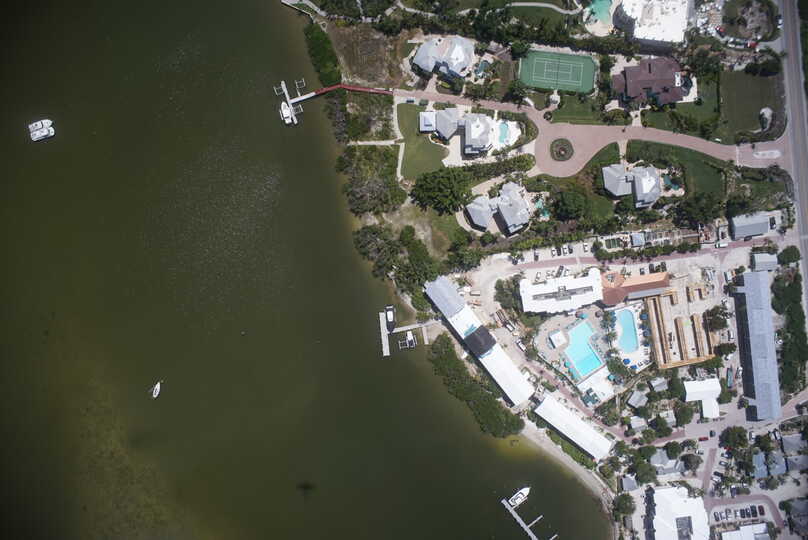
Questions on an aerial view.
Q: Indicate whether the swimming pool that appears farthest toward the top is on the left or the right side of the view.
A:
right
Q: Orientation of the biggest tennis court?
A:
horizontally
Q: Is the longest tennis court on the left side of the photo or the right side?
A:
right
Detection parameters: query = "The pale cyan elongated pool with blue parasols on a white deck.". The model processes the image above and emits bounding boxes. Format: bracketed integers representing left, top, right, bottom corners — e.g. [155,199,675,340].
[604,301,652,372]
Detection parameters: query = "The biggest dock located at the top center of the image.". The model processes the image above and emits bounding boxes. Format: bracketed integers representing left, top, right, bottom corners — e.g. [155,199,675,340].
[281,81,394,124]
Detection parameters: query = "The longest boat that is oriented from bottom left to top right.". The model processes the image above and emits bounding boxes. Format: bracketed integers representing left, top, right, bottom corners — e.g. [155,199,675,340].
[506,487,526,506]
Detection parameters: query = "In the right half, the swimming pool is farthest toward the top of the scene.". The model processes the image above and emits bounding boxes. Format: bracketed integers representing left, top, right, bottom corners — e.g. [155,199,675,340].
[584,0,614,36]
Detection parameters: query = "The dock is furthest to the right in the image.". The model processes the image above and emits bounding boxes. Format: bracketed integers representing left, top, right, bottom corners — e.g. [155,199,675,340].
[500,497,557,540]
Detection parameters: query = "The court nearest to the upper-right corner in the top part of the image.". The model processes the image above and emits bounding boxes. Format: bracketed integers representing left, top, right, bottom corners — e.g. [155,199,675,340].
[520,47,597,92]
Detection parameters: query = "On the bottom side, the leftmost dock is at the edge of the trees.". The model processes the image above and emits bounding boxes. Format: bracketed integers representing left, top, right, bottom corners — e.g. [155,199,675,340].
[379,313,438,356]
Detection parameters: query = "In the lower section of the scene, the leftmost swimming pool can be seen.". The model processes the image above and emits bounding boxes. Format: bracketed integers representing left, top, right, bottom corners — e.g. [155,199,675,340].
[534,305,611,384]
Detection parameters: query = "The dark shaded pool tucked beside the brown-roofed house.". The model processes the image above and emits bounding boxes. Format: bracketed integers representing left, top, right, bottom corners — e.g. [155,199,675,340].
[676,69,698,103]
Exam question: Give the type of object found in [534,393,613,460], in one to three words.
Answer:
building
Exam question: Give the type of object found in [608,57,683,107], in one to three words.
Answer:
house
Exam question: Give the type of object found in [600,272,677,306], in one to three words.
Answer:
building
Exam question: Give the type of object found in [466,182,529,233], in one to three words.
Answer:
house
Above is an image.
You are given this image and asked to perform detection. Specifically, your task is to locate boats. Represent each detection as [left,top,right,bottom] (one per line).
[27,119,54,130]
[408,332,414,348]
[152,382,161,398]
[506,487,526,506]
[282,103,293,125]
[386,305,395,332]
[28,129,55,141]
